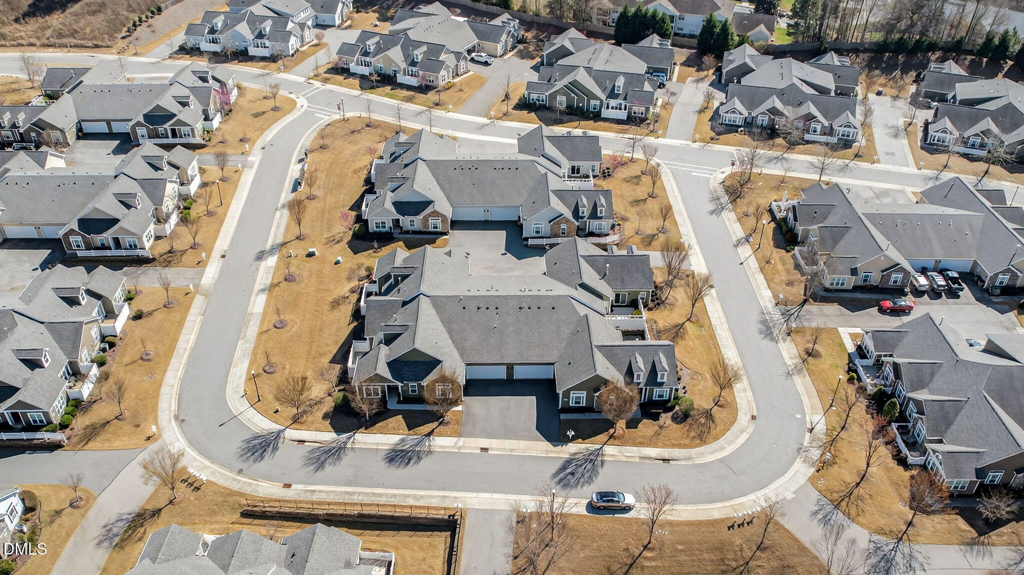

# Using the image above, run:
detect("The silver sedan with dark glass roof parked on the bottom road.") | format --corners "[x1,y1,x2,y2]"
[590,489,637,512]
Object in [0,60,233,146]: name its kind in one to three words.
house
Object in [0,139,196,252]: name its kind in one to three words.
house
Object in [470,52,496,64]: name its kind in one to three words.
vehicle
